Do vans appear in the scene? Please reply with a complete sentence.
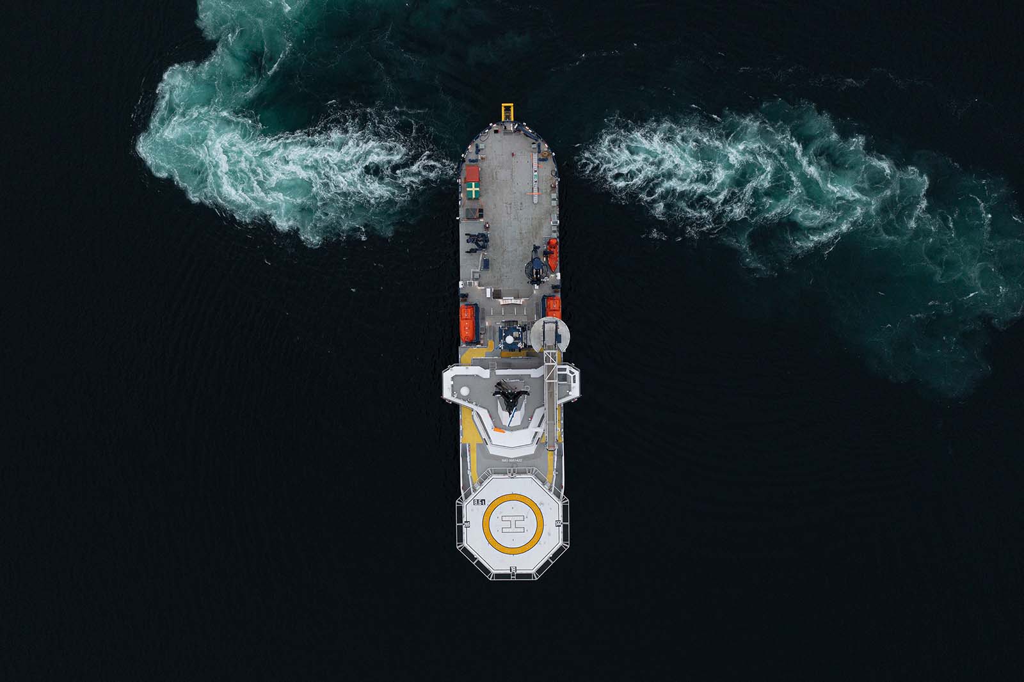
No, there appears to be no van in this shot.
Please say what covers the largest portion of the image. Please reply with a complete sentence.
The largest share of the image is taken up by water.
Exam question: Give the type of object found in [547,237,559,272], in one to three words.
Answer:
boat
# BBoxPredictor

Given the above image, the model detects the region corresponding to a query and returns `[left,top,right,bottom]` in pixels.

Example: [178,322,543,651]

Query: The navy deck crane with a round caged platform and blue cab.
[525,245,549,294]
